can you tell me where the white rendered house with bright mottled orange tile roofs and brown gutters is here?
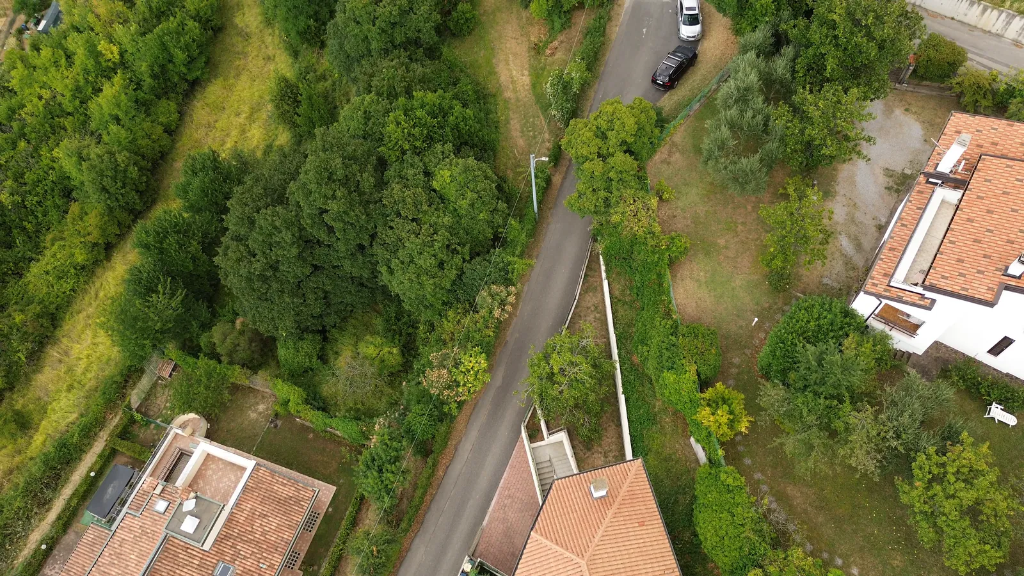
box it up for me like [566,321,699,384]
[851,110,1024,381]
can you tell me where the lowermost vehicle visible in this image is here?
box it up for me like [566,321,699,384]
[653,45,700,90]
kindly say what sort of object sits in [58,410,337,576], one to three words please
house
